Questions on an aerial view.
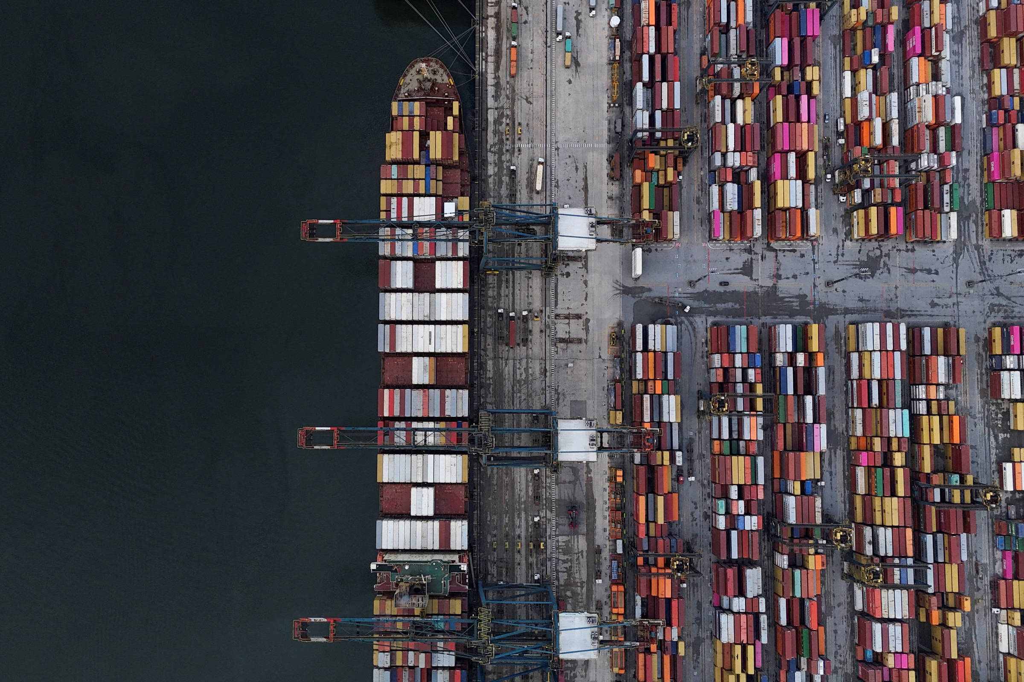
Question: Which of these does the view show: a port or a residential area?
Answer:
port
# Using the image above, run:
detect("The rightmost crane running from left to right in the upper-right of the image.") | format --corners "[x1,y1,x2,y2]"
[830,153,920,195]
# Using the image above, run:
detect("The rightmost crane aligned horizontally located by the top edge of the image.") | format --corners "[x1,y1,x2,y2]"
[756,0,840,31]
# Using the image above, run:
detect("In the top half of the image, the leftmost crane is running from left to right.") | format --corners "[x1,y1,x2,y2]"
[297,201,659,283]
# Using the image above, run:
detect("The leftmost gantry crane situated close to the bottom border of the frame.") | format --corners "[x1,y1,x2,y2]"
[291,563,663,666]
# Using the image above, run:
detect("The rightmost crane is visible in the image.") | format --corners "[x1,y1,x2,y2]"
[904,475,1000,511]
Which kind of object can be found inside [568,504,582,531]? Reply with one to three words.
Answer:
work vehicle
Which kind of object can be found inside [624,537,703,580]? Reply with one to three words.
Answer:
crane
